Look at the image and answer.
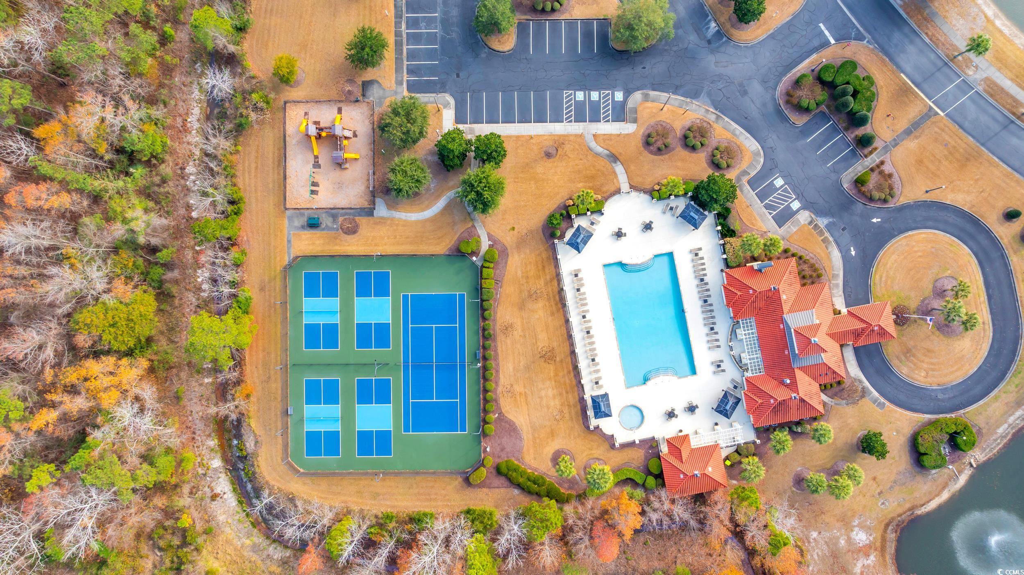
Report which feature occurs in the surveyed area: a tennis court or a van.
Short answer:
tennis court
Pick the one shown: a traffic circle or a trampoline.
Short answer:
traffic circle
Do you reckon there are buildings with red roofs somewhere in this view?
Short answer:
Yes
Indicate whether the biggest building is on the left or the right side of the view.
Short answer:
right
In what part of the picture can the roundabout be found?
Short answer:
right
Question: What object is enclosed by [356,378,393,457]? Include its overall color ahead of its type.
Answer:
blue sports court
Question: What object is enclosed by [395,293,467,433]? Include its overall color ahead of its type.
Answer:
blue tennis court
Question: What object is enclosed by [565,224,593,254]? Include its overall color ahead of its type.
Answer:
blue gazebo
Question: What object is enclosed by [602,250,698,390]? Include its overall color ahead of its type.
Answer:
blue swimming pool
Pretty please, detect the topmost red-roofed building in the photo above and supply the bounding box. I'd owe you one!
[718,257,897,428]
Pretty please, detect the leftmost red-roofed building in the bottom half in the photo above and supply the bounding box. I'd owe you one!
[660,432,729,499]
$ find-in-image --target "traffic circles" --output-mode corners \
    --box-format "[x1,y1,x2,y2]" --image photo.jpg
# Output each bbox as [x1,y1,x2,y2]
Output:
[841,199,1022,416]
